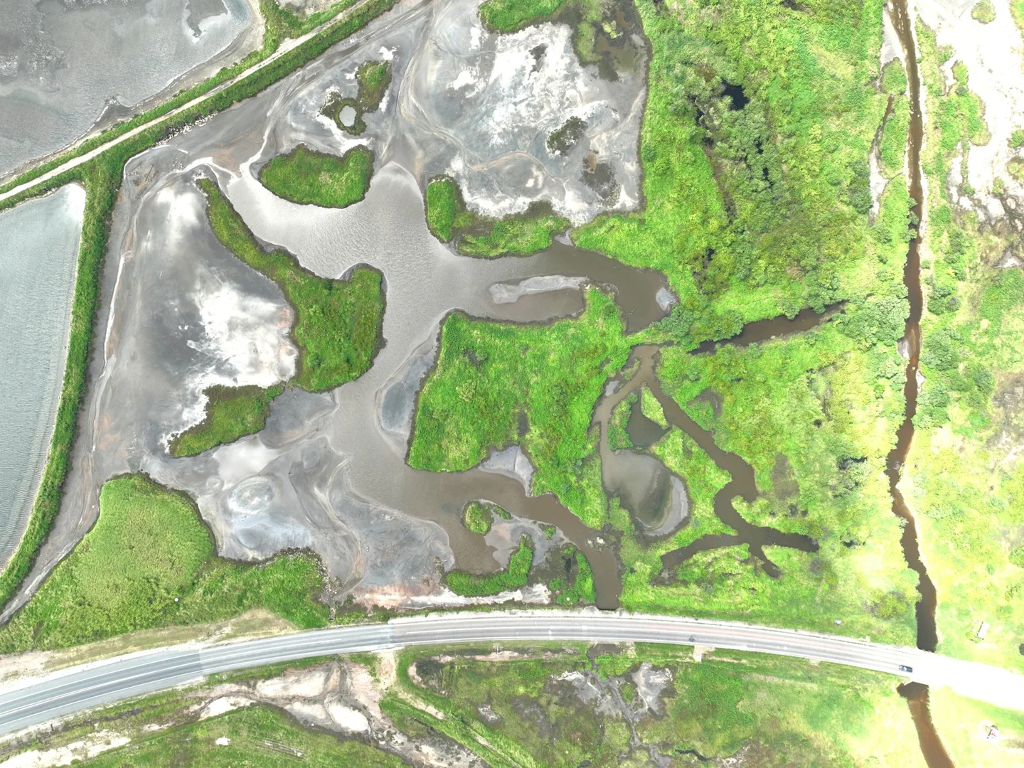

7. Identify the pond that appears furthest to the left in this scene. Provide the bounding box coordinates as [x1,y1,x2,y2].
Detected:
[0,186,82,570]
